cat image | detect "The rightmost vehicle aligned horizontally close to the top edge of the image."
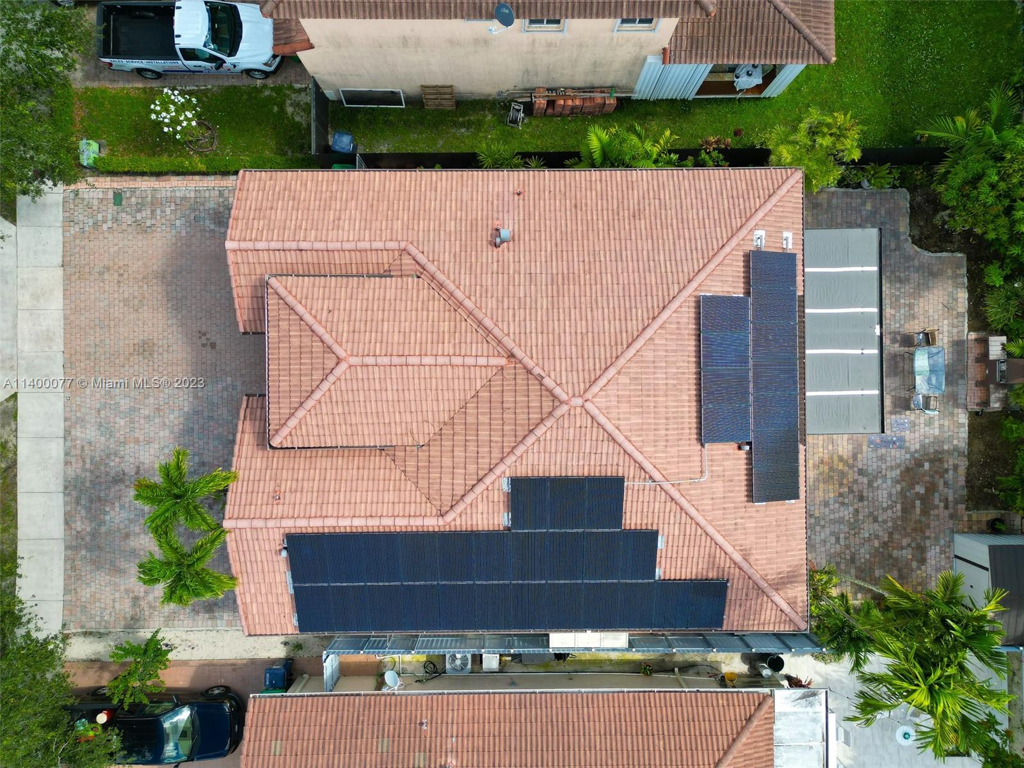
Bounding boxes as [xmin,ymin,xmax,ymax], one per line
[97,0,287,80]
